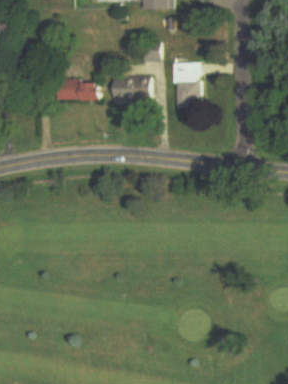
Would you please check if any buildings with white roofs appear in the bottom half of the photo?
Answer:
No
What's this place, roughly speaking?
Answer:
golf course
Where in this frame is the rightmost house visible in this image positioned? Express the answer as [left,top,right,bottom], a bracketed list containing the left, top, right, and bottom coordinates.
[174,57,204,109]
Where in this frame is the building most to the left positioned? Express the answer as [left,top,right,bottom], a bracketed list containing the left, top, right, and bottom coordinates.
[57,78,102,101]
